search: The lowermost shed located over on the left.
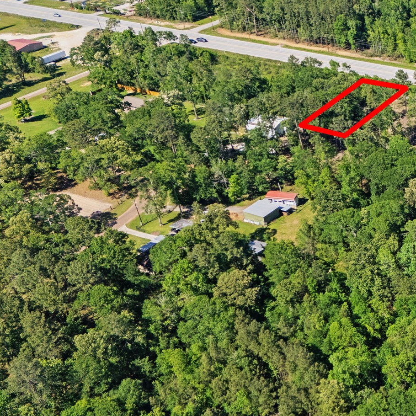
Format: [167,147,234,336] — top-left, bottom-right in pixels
[137,234,167,260]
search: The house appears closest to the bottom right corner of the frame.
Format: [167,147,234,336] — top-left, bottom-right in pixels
[248,241,272,262]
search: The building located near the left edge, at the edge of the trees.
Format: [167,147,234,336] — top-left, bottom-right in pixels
[10,37,45,58]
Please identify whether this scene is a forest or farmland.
forest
